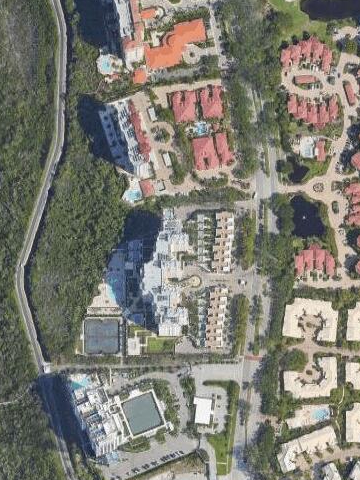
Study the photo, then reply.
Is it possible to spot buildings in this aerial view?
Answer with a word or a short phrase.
Yes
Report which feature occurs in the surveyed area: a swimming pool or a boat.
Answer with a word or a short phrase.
swimming pool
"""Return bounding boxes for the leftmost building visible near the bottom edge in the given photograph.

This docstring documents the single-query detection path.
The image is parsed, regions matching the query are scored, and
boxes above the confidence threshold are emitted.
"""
[74,380,133,459]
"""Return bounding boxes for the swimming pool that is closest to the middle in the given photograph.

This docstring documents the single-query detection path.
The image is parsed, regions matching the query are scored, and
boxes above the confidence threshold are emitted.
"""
[122,180,141,203]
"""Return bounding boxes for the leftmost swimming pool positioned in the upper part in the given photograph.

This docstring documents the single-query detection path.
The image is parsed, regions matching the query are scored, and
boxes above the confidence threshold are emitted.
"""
[96,53,119,78]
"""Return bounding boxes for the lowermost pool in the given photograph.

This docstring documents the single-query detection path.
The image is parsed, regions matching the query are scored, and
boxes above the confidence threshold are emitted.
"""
[311,407,331,420]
